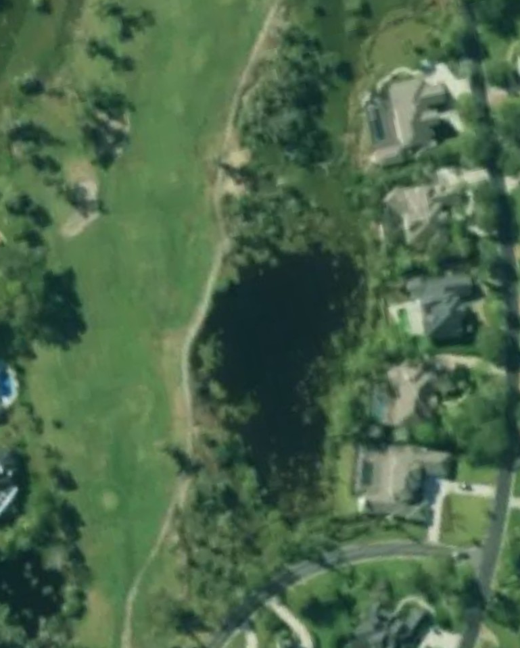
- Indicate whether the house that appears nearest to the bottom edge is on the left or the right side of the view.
right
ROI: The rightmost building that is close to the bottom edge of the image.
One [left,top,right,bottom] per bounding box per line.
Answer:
[347,606,438,648]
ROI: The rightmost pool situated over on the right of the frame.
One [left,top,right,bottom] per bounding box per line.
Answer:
[397,308,412,337]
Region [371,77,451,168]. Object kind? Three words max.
house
